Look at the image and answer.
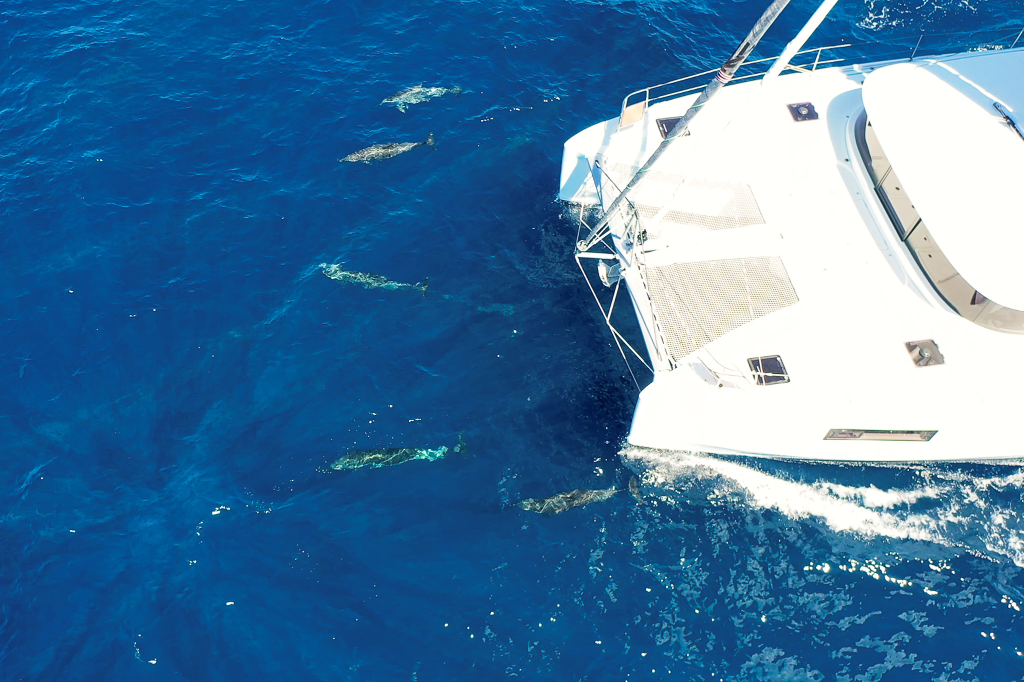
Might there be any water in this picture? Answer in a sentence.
Yes, some water is visible.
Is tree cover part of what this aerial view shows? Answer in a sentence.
No, there's no tree cover in this view.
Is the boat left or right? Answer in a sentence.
It is on the right.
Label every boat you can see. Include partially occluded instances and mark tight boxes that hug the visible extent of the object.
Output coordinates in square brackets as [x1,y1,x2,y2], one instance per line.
[561,0,1024,461]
